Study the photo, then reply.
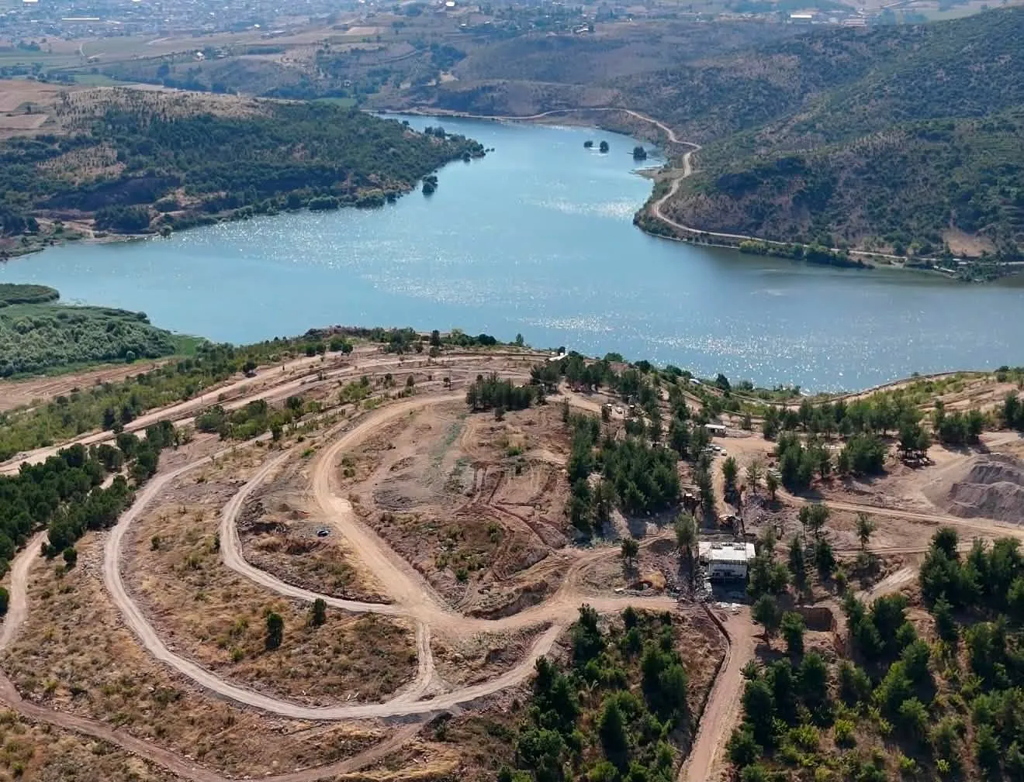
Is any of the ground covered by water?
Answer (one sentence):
Yes, there's water in this view.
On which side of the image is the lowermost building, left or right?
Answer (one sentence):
You can find the lowermost building on the right side of the picture.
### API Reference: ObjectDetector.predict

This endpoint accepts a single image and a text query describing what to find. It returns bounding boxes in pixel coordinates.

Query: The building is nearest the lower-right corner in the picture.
[697,544,756,584]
